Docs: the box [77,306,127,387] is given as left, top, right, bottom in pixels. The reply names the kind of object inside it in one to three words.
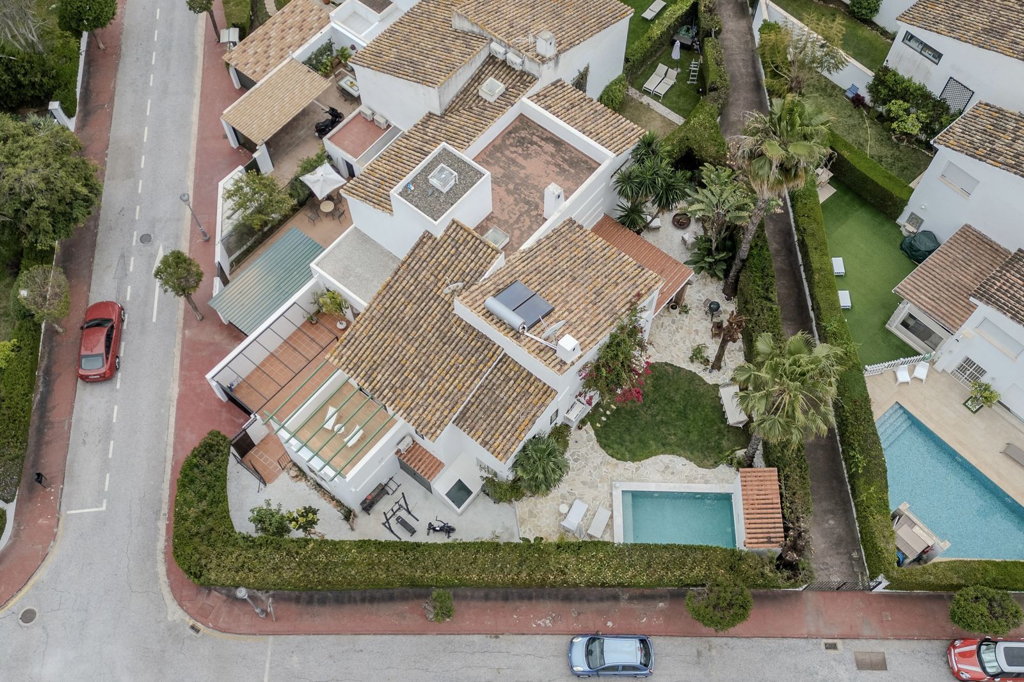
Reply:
car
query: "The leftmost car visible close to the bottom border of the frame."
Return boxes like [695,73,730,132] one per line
[569,630,655,679]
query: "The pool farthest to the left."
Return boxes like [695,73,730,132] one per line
[613,483,743,554]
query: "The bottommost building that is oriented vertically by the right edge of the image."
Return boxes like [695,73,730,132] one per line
[880,94,1024,427]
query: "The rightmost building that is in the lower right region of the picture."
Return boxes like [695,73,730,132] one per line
[894,501,951,558]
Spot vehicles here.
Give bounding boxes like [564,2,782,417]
[569,630,655,679]
[77,306,127,387]
[942,633,1024,682]
[315,108,338,141]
